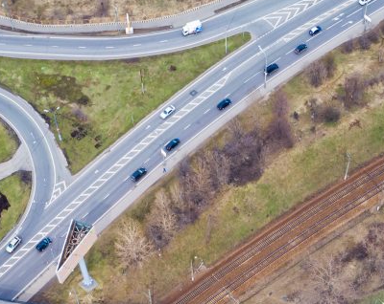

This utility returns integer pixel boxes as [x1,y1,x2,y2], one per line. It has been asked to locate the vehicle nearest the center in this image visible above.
[164,138,181,152]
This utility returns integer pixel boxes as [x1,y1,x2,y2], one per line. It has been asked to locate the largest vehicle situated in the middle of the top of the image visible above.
[180,20,204,39]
